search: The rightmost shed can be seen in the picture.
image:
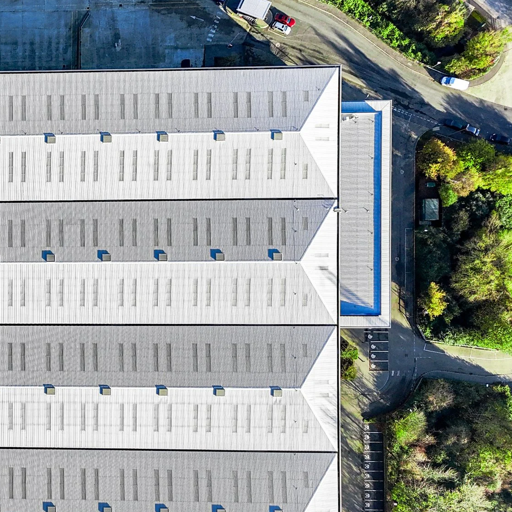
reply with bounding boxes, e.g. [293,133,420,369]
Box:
[414,200,439,228]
